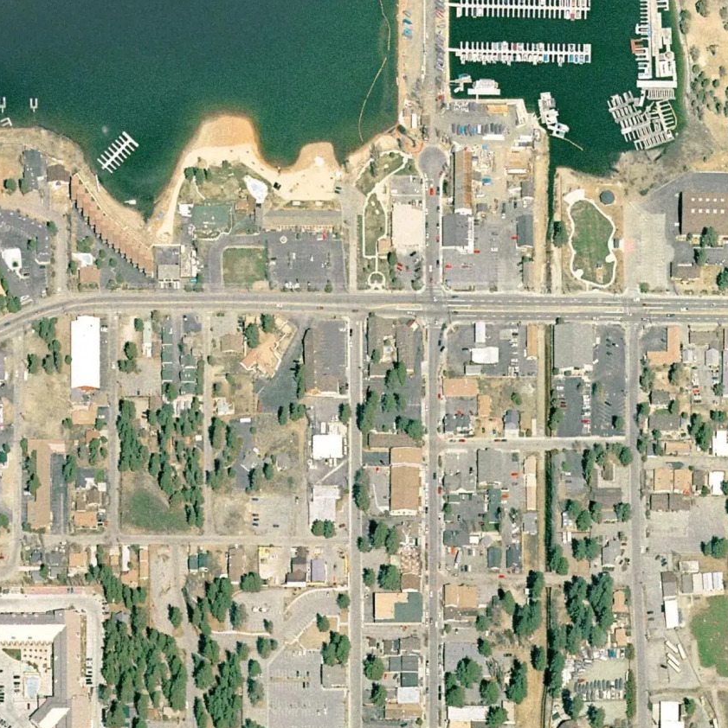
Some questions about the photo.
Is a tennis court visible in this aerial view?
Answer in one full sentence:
No, the picture doesn't show any tennis court.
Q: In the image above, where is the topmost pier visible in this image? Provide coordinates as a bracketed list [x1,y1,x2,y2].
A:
[446,0,590,18]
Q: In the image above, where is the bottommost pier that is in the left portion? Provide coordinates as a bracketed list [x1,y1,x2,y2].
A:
[95,131,139,175]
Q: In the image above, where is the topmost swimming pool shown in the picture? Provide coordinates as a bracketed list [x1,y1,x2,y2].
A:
[244,172,268,203]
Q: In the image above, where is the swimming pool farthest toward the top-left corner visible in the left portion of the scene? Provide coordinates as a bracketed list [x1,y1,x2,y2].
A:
[72,251,96,265]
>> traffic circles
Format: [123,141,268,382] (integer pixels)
[418,145,447,175]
